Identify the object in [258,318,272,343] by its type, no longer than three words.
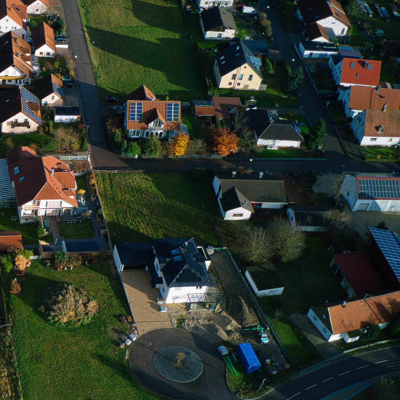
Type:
vehicle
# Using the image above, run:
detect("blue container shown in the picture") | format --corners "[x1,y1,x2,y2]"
[236,340,265,373]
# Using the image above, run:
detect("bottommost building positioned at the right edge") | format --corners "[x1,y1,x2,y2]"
[311,290,400,346]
